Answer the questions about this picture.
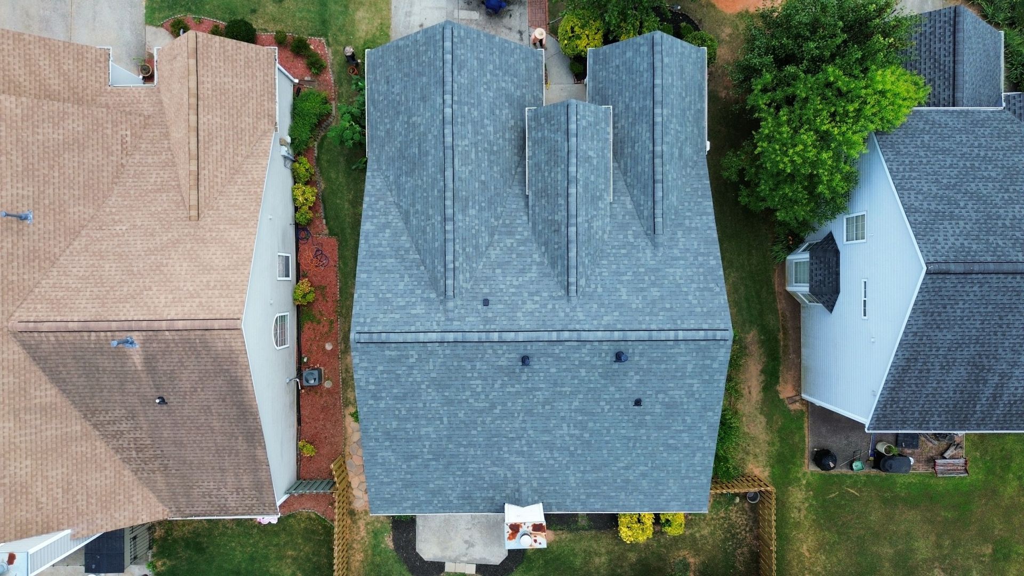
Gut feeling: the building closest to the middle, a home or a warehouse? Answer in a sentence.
It looks like the building closest to the middle is a home.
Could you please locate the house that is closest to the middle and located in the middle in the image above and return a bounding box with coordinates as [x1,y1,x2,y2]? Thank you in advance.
[351,24,733,548]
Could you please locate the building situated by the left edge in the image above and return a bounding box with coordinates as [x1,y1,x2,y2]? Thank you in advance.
[0,29,302,576]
